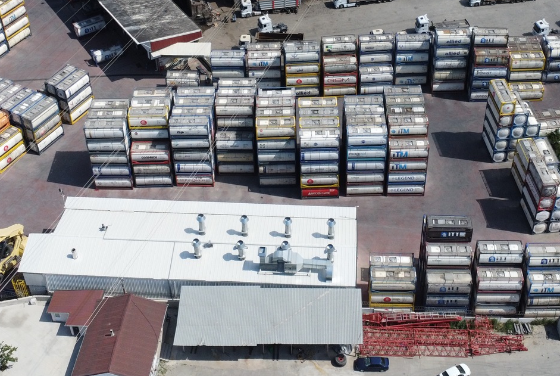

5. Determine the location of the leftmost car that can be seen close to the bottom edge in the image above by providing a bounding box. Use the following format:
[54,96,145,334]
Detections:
[354,355,390,373]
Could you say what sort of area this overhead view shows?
industrial area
